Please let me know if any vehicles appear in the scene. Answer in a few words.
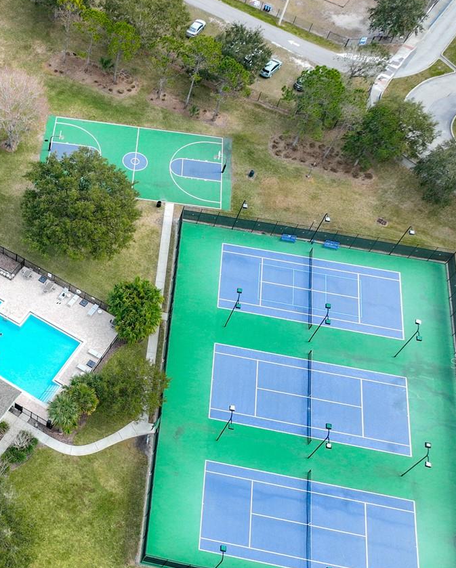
Yes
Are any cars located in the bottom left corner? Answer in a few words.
No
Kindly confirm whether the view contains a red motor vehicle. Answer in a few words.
No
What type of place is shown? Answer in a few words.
sports ground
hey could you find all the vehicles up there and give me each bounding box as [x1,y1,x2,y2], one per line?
[294,67,318,87]
[260,56,284,75]
[185,17,208,35]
